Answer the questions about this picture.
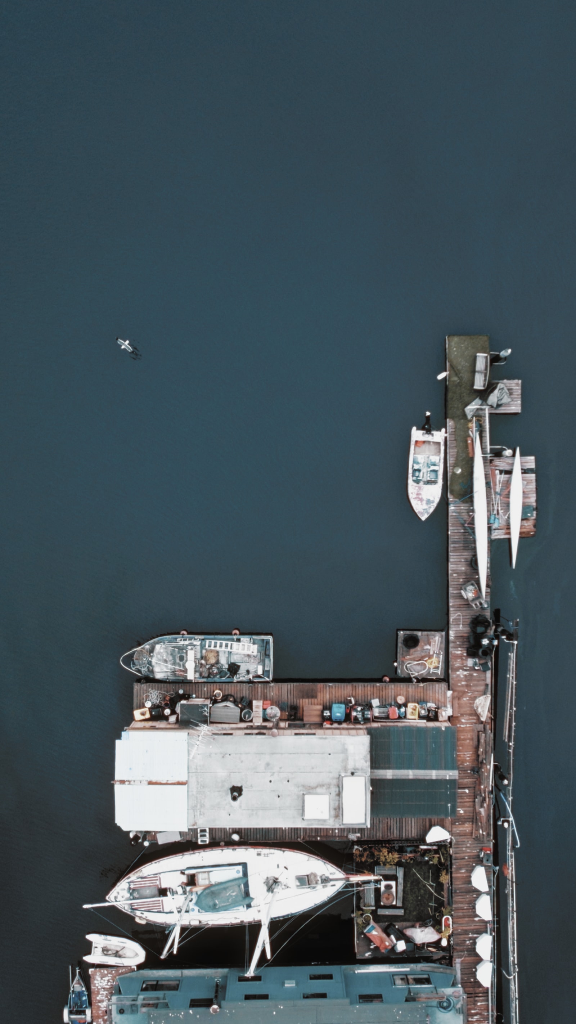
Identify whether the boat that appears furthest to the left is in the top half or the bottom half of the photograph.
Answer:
bottom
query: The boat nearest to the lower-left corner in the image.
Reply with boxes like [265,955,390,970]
[63,965,91,1024]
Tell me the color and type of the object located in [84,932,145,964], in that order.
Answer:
white boat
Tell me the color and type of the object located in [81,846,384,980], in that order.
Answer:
white boat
